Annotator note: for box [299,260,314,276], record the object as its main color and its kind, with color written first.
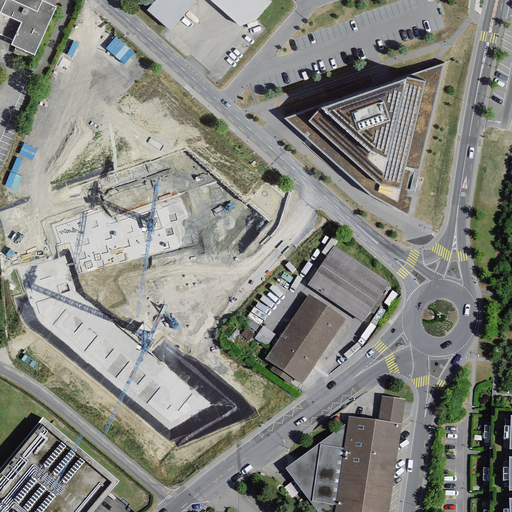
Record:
white vehicle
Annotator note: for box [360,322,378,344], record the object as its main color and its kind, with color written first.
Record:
white vehicle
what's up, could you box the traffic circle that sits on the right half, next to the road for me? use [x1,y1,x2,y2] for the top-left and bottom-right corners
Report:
[338,208,479,408]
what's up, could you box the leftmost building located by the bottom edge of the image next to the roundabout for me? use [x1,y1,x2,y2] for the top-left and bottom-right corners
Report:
[286,396,406,512]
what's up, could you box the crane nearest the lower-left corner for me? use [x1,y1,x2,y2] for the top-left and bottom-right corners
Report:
[80,302,165,474]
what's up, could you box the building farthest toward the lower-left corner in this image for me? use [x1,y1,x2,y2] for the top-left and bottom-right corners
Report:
[0,417,119,512]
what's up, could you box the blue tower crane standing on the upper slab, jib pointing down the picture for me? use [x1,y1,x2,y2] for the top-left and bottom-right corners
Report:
[134,180,158,320]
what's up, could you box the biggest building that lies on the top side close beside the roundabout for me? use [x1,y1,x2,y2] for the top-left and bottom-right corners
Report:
[285,63,444,216]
